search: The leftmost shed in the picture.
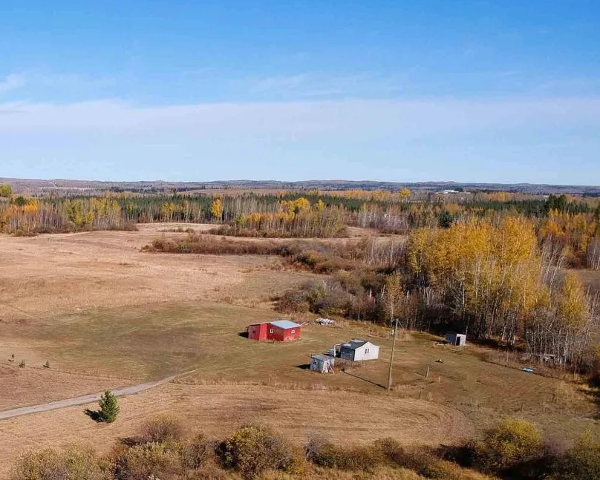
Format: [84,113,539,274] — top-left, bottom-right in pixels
[247,318,306,341]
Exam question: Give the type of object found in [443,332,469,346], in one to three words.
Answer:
shed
